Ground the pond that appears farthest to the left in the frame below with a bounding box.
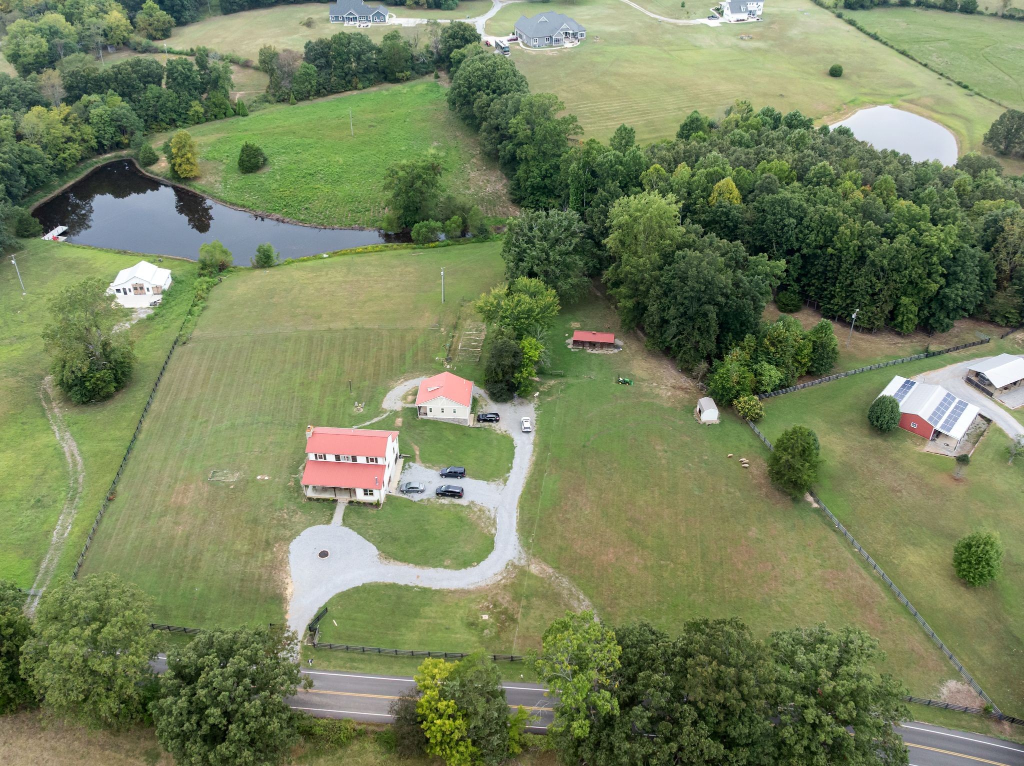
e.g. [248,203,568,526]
[33,160,503,268]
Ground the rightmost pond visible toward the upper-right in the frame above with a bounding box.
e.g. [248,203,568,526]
[813,106,959,193]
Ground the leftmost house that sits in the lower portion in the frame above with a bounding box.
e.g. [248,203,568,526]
[299,418,401,504]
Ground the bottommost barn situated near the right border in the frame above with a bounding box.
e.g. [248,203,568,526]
[870,384,980,453]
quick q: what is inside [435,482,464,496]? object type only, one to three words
car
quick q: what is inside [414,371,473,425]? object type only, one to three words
house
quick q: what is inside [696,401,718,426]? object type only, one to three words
shed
